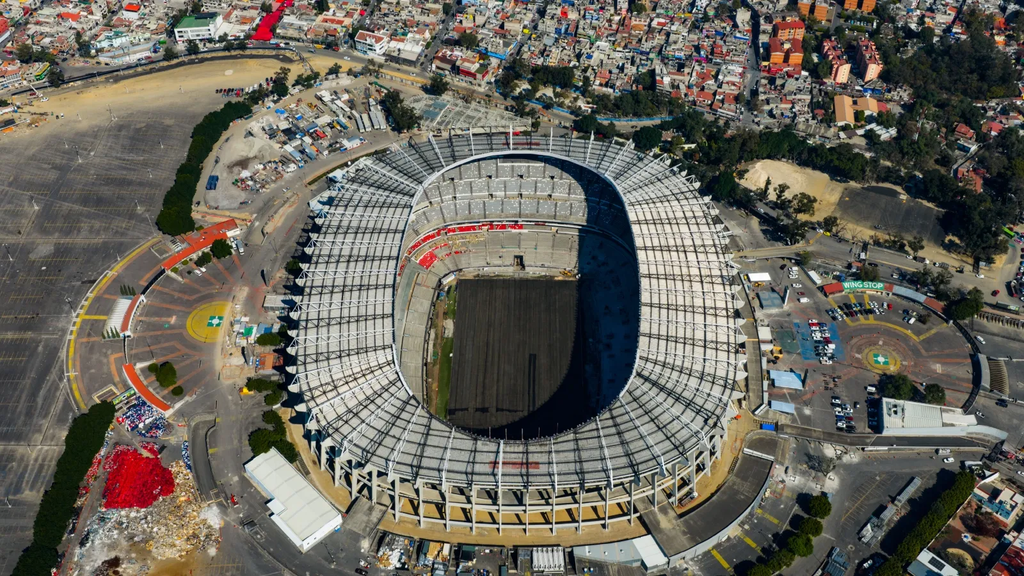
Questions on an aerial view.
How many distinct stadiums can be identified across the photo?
one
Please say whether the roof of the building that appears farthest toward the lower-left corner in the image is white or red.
red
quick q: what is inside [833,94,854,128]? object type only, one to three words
building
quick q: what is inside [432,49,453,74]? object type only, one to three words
house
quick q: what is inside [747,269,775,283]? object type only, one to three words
shed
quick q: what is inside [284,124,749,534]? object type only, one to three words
stadium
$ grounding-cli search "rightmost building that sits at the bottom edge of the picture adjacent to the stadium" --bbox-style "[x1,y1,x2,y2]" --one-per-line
[633,534,668,573]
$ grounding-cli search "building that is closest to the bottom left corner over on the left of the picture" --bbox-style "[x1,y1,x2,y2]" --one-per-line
[122,364,174,418]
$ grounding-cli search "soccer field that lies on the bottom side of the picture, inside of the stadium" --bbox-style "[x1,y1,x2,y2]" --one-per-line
[430,272,601,427]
